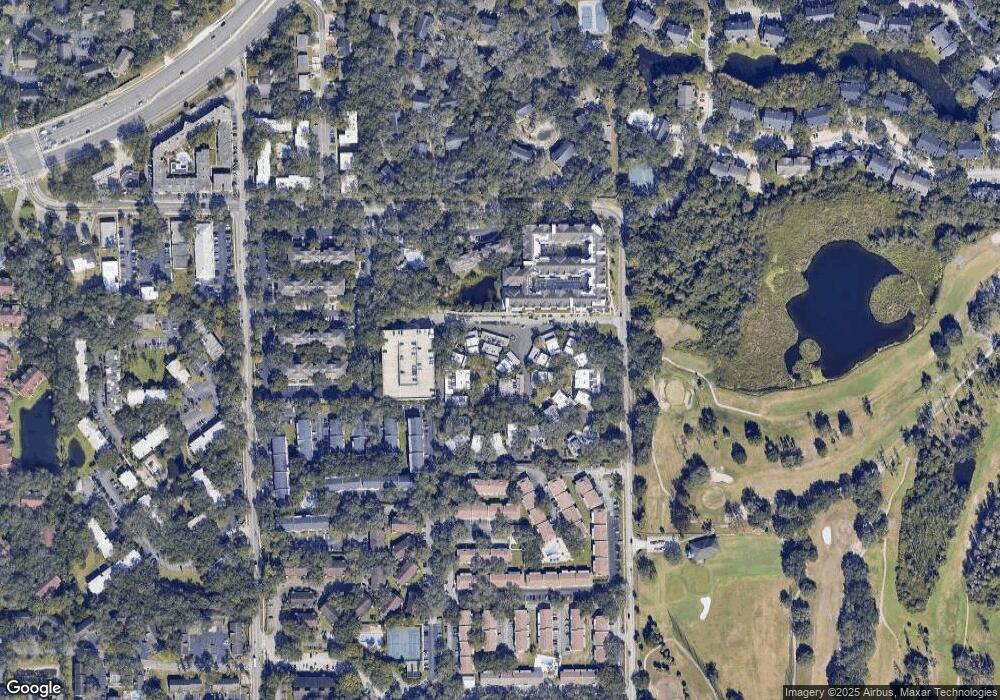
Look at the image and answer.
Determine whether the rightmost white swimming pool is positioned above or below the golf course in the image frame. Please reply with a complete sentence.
Looking at the scene, the rightmost white swimming pool is located above the golf course.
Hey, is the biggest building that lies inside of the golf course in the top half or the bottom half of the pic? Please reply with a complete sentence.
It is in the bottom half that the biggest building that lies inside of the golf course appears.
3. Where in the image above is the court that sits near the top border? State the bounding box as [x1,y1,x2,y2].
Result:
[579,0,608,33]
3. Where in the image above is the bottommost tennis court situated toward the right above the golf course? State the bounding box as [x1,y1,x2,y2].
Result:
[629,168,653,186]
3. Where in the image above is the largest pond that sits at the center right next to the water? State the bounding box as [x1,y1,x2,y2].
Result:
[785,240,915,380]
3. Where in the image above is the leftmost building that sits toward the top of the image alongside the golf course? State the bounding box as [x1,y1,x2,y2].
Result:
[502,223,607,313]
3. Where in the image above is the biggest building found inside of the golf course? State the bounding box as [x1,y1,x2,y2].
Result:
[688,535,724,562]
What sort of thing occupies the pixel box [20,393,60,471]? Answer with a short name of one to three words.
pond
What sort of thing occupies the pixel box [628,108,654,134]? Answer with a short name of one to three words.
swimming pool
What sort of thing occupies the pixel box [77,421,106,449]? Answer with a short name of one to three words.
building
